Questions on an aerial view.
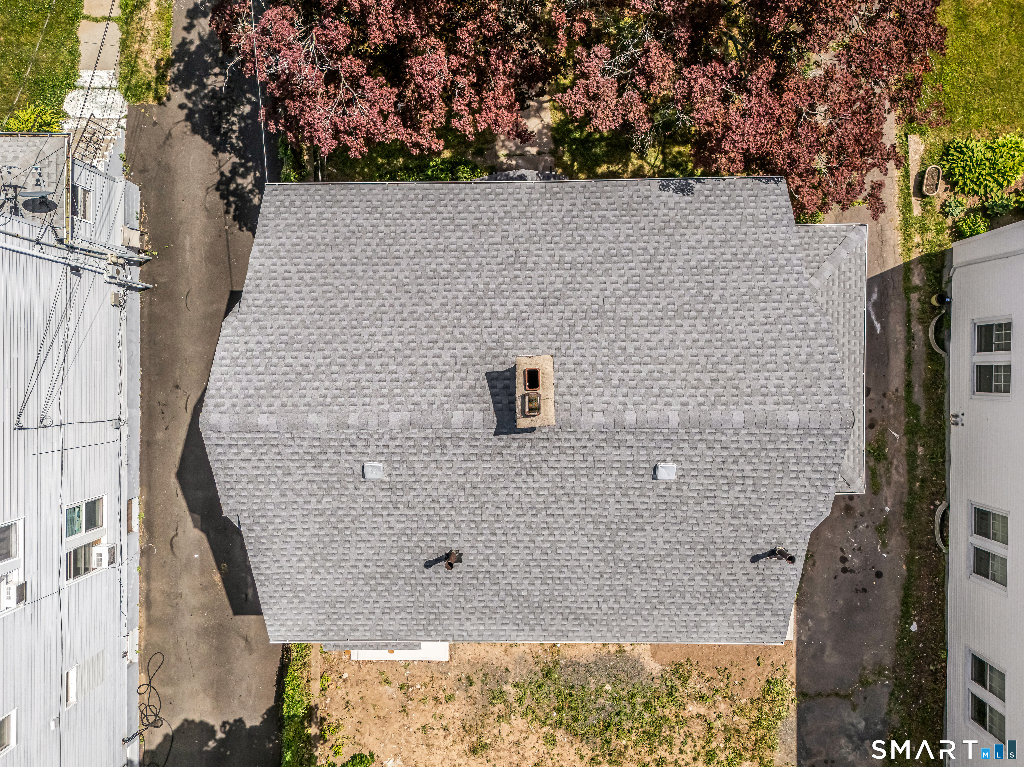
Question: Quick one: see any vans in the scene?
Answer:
No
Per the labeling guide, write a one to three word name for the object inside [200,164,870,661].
house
